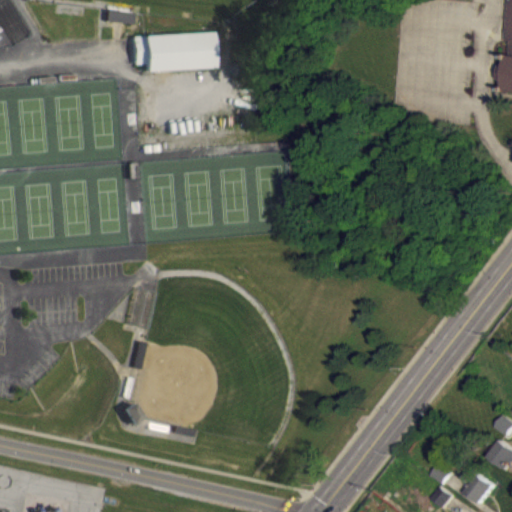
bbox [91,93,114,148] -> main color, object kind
green tennis court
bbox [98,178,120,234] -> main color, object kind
green tennis court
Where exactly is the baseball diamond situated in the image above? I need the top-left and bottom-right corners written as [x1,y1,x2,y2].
[132,341,218,427]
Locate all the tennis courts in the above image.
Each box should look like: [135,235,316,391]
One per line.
[19,98,48,154]
[91,93,114,148]
[148,174,177,230]
[62,180,90,236]
[26,183,54,239]
[0,186,18,241]
[54,96,84,152]
[0,100,11,156]
[184,171,213,227]
[220,168,249,224]
[98,178,120,234]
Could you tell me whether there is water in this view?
No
